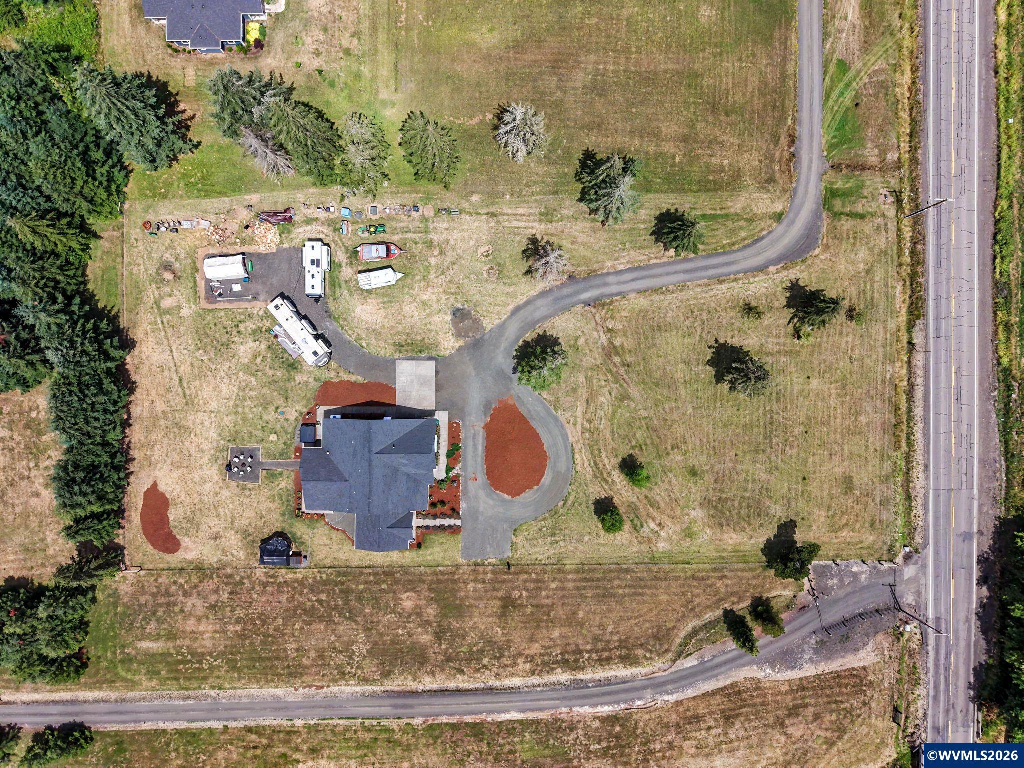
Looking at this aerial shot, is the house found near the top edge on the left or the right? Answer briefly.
left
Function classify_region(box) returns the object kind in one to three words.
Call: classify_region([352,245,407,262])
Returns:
boat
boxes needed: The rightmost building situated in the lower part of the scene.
[298,419,438,552]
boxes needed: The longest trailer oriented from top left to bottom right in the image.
[268,297,331,365]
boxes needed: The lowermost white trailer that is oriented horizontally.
[359,269,404,291]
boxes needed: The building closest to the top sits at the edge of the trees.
[139,0,266,56]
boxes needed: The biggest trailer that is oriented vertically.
[302,241,331,307]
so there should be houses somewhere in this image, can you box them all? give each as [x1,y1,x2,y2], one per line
[298,419,438,552]
[139,0,266,56]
